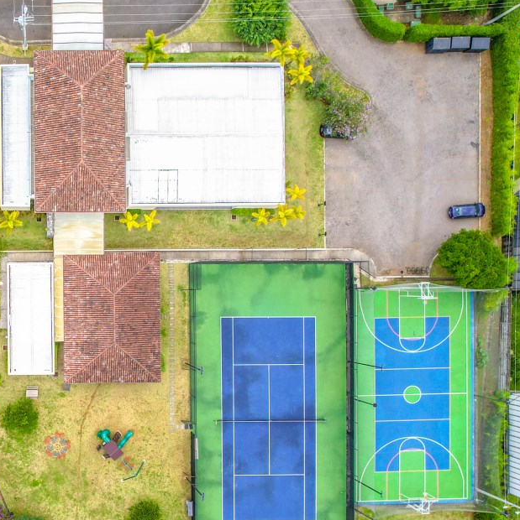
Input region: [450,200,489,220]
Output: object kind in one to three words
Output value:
car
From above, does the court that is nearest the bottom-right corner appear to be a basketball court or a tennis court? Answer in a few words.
basketball court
